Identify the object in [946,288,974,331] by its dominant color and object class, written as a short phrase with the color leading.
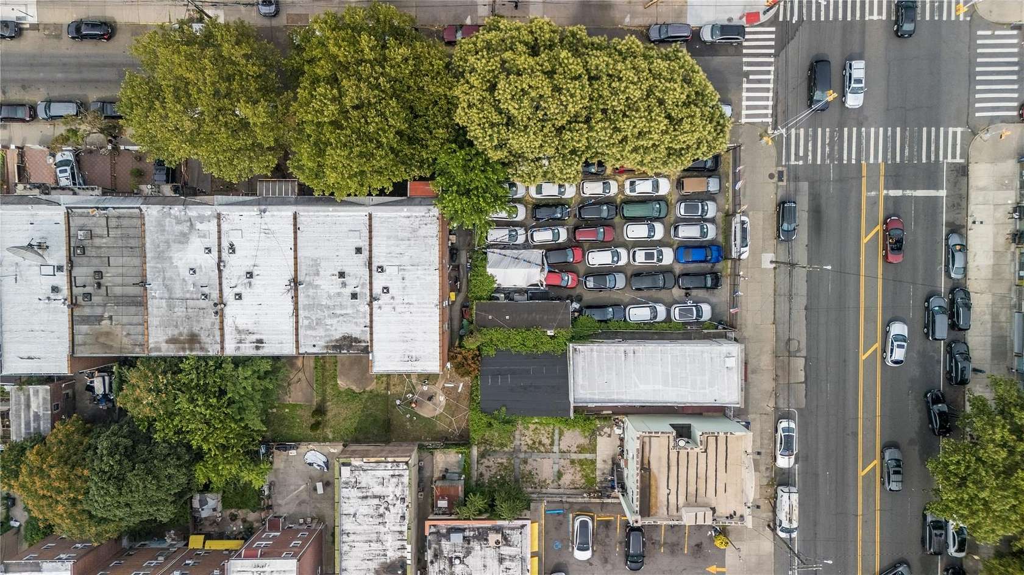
black car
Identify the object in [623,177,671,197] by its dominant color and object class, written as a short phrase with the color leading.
white car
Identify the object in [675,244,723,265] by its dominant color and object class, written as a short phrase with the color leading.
blue car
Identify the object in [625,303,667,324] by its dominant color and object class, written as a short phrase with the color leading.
white car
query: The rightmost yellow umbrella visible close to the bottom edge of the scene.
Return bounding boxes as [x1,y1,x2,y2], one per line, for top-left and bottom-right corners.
[714,534,728,548]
